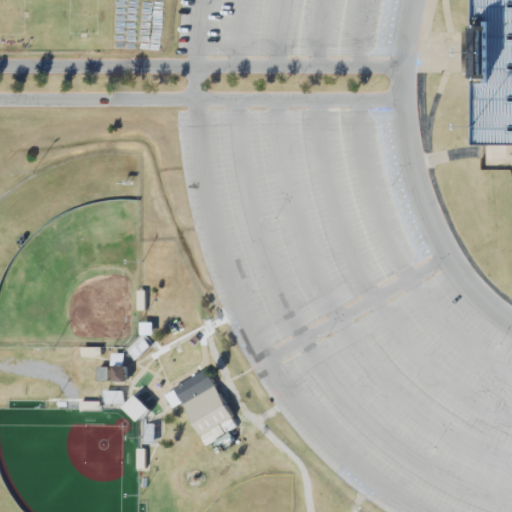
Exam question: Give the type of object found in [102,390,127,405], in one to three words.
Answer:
shed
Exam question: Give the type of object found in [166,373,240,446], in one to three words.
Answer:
building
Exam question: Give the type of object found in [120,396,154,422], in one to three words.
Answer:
building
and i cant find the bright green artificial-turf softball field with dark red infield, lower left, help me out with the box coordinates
[0,409,140,512]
